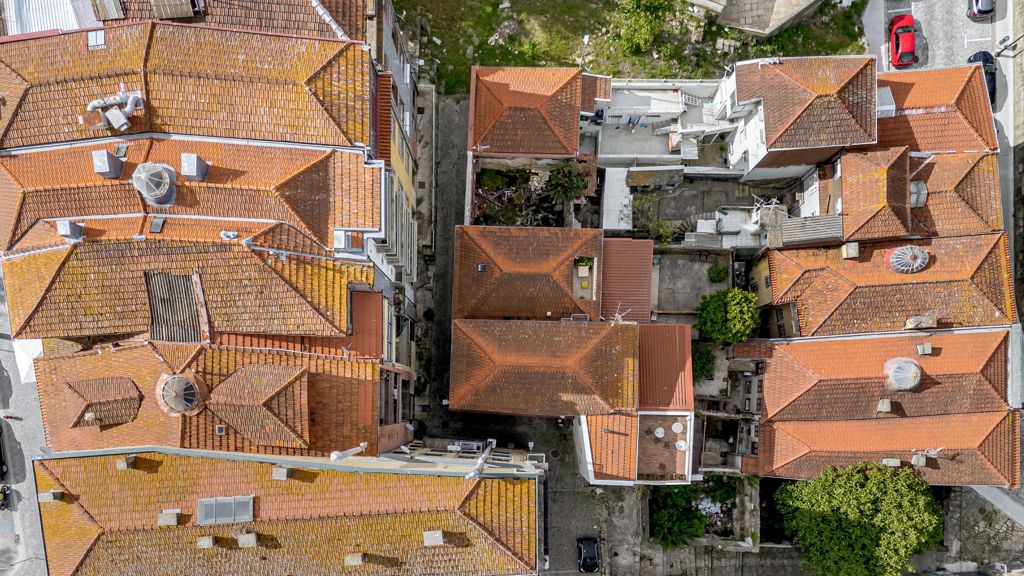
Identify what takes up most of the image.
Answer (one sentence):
What you mostly see from above here is buildings.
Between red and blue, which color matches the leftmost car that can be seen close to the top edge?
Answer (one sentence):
In this view, the leftmost car that can be seen close to the top edge is red.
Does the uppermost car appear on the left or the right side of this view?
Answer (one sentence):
You can find the uppermost car on the right side of the picture.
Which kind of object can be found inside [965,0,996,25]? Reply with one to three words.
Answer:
car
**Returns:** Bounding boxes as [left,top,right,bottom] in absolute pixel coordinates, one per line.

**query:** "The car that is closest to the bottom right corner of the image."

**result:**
[576,537,601,573]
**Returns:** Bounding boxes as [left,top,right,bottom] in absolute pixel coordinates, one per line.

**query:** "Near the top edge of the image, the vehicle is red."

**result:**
[887,19,916,69]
